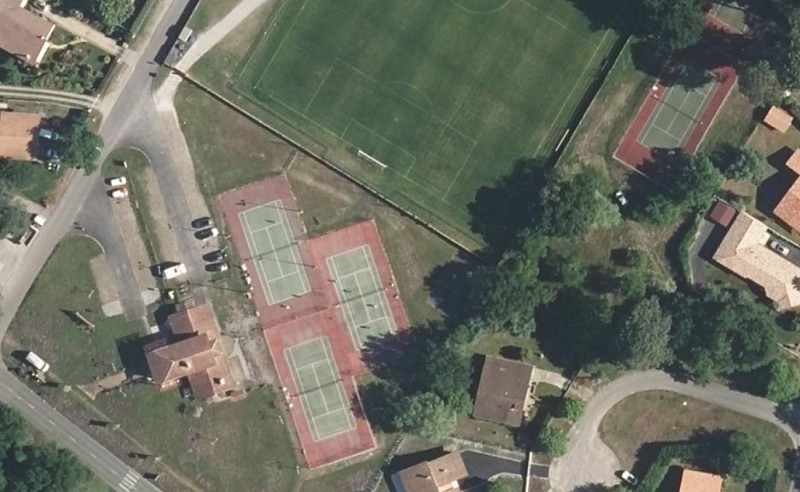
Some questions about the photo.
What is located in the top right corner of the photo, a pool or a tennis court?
tennis court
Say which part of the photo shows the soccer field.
top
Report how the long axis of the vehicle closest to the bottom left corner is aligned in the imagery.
diagonally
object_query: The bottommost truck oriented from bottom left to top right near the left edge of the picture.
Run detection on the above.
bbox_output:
[21,216,45,244]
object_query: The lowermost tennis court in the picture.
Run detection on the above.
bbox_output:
[263,312,377,469]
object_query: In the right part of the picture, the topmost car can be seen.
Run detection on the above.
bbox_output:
[613,189,630,205]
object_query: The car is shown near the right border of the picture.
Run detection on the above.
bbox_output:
[772,243,790,257]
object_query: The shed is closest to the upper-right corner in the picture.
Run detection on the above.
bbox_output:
[764,106,793,134]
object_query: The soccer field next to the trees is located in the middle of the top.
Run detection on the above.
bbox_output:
[236,0,628,237]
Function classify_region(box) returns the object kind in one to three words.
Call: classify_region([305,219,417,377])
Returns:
tennis court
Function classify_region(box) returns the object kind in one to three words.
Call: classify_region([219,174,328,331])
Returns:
tennis court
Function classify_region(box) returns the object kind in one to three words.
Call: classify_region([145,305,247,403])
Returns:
building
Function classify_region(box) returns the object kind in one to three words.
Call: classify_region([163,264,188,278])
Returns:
vehicle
